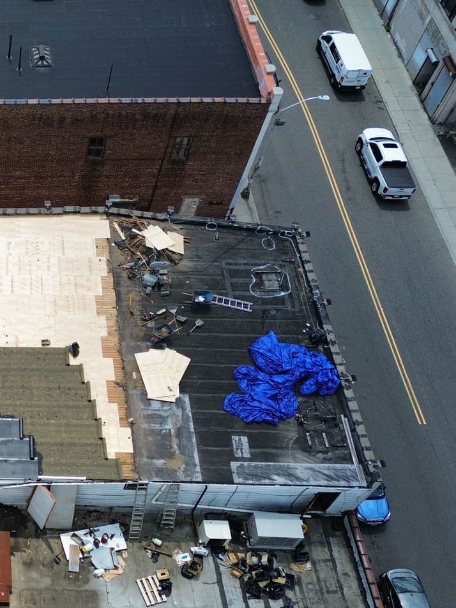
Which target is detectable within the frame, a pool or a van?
van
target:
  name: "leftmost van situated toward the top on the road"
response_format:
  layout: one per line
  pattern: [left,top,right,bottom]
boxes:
[314,36,375,92]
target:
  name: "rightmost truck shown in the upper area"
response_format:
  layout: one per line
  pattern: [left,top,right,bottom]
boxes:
[353,129,421,199]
